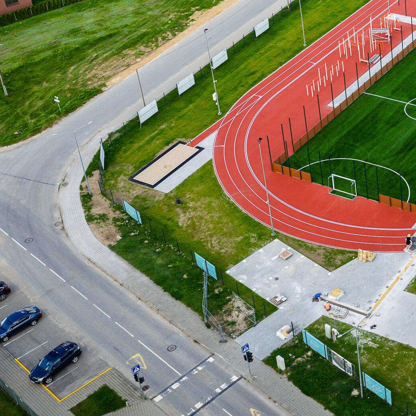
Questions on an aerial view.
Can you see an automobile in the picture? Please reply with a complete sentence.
Yes, an automobile appears in the view.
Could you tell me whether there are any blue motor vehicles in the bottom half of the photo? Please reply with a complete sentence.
Yes, a blue motor vehicle is visible in the bottom half of the photo.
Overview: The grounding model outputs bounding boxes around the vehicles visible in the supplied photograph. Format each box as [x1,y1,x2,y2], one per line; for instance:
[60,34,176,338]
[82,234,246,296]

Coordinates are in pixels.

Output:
[29,342,84,384]
[0,307,45,344]
[0,284,13,304]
